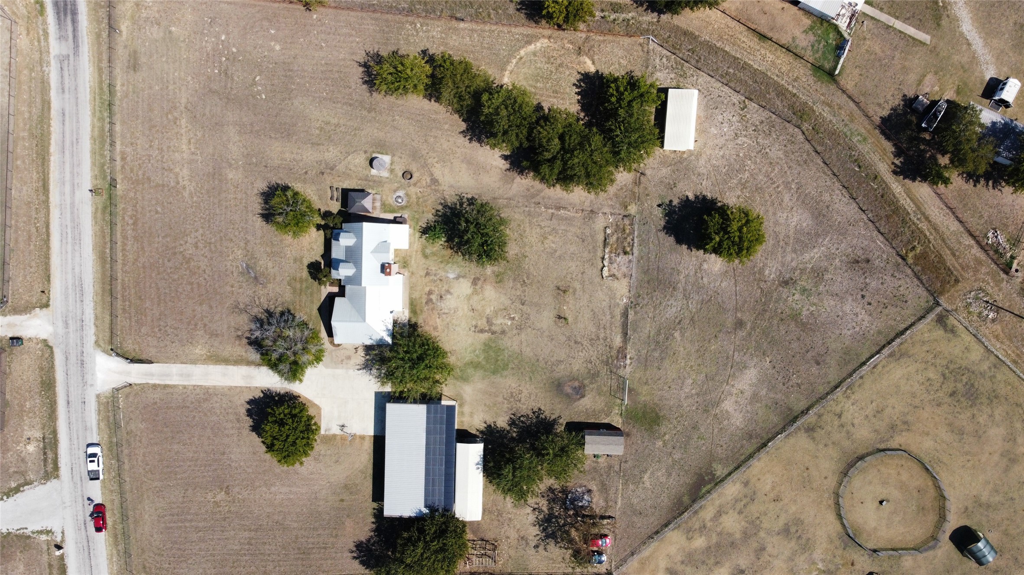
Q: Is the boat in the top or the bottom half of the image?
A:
top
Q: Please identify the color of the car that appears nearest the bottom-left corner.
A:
red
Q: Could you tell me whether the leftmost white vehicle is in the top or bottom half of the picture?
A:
bottom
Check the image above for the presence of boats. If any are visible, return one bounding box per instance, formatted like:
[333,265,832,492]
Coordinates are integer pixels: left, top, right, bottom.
[924,101,946,130]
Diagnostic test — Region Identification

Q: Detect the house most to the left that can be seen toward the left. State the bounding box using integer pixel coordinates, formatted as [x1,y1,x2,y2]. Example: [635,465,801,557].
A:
[330,221,411,345]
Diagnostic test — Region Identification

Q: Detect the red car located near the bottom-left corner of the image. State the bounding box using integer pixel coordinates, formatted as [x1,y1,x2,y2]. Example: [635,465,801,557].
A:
[88,503,109,534]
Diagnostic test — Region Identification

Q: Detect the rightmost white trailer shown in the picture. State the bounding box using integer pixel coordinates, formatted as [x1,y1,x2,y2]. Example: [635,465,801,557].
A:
[988,74,1024,113]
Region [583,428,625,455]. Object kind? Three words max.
shed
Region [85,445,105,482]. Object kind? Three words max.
vehicle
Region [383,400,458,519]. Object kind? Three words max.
building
